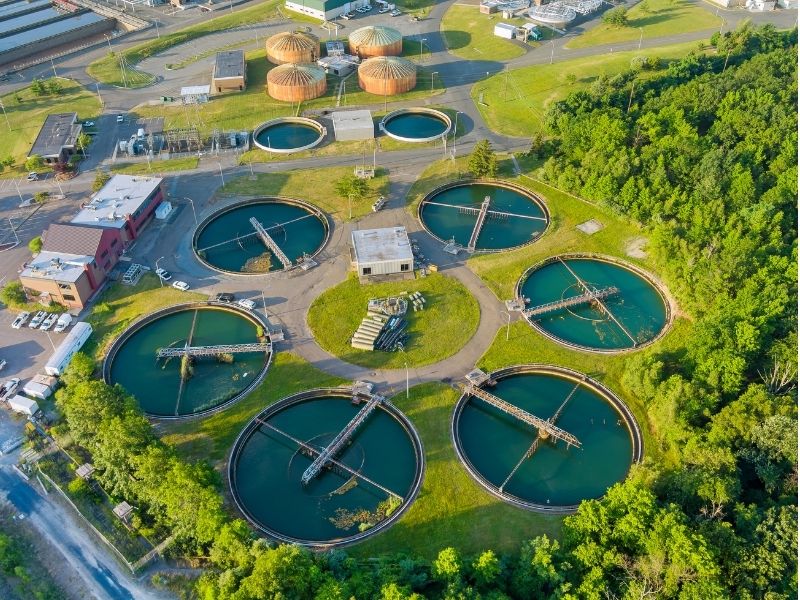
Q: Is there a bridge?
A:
Yes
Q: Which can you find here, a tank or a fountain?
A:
tank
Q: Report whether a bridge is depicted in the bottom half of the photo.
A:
Yes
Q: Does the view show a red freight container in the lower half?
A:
No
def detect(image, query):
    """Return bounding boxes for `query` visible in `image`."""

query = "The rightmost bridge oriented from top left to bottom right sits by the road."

[467,377,581,455]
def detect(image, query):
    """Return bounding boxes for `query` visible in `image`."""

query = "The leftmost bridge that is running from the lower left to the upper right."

[300,391,388,488]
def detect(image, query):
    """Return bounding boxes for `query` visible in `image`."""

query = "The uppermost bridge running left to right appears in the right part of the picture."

[516,288,623,315]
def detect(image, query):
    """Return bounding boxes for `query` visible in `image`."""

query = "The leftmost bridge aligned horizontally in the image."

[155,343,276,362]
